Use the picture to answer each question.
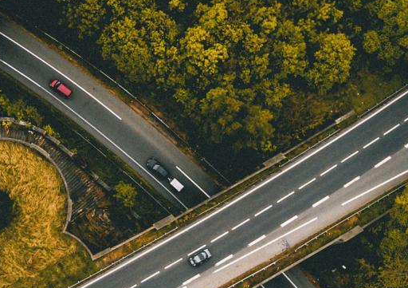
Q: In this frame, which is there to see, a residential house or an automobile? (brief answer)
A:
automobile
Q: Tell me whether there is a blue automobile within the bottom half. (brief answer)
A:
No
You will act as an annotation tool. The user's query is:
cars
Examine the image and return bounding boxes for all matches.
[146,157,172,181]
[188,247,214,267]
[48,78,74,98]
